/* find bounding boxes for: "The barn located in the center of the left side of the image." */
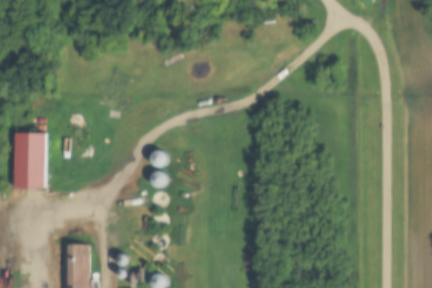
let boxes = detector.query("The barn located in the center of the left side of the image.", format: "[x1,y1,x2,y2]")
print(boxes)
[14,133,47,188]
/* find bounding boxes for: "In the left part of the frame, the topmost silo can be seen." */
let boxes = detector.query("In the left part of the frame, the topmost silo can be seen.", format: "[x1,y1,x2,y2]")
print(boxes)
[148,148,170,170]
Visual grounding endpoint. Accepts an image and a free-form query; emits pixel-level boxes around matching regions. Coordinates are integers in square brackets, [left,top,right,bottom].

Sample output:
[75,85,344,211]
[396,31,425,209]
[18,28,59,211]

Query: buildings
[66,245,91,288]
[14,133,47,188]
